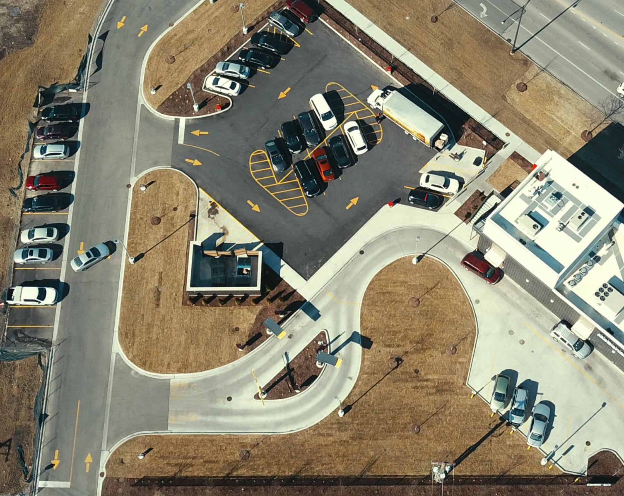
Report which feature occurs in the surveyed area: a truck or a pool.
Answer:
truck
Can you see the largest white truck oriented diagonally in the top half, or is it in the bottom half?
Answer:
top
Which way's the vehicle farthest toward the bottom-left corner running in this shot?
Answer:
horizontally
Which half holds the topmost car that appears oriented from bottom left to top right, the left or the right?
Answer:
left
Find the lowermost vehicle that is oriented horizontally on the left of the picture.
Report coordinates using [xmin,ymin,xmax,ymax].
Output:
[5,285,57,306]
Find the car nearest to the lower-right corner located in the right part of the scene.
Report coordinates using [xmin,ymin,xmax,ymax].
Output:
[528,404,549,445]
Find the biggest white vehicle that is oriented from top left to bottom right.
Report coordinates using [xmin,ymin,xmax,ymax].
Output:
[366,87,453,156]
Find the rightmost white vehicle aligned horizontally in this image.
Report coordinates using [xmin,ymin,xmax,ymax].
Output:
[420,175,458,194]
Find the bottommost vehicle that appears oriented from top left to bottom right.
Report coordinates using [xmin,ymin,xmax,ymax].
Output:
[552,322,592,358]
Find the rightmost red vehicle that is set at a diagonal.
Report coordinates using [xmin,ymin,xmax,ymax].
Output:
[460,251,502,284]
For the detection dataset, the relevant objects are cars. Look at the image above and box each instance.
[460,251,502,284]
[420,175,458,194]
[298,113,320,147]
[616,82,624,98]
[408,191,442,210]
[328,135,353,168]
[509,388,530,425]
[313,149,335,182]
[310,93,336,130]
[26,175,61,192]
[344,121,369,156]
[280,121,302,154]
[552,322,592,358]
[216,63,251,83]
[292,160,318,196]
[21,226,60,245]
[254,32,291,56]
[206,79,240,98]
[267,11,298,37]
[528,404,549,445]
[37,125,70,142]
[41,105,79,124]
[14,247,54,266]
[240,49,278,72]
[24,195,62,213]
[491,375,511,411]
[34,144,70,161]
[70,242,110,274]
[265,141,286,173]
